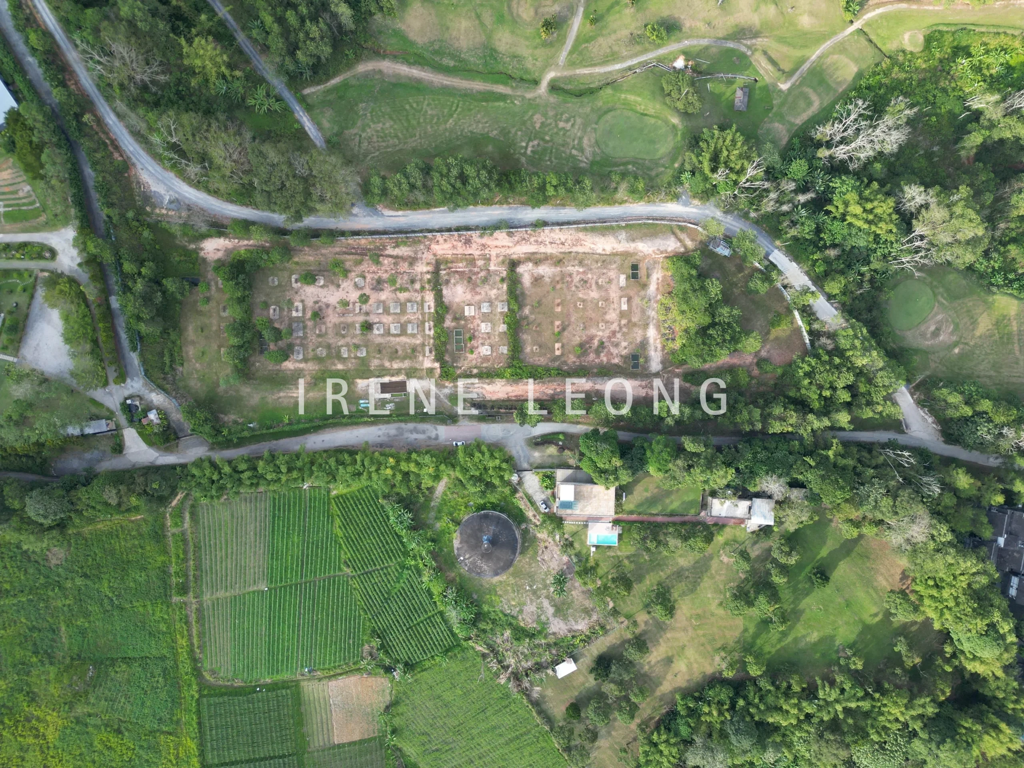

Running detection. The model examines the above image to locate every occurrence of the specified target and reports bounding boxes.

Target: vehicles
[540,501,550,513]
[453,441,465,446]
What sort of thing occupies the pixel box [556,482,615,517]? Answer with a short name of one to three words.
house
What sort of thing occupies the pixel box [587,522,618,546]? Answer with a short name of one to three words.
swimming pool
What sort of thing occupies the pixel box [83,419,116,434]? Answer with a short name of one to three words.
shed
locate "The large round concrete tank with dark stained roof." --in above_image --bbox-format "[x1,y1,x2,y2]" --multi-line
[454,508,521,578]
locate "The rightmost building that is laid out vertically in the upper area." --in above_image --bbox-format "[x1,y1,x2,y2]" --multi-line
[732,82,749,113]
